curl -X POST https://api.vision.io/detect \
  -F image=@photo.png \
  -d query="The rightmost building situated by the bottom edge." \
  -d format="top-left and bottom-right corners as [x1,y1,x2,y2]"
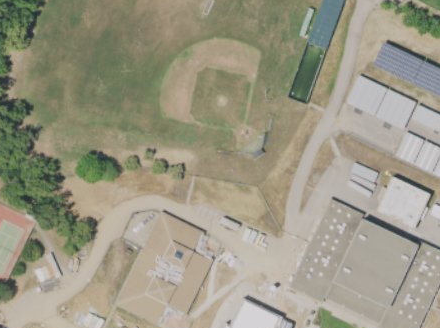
[290,198,440,328]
